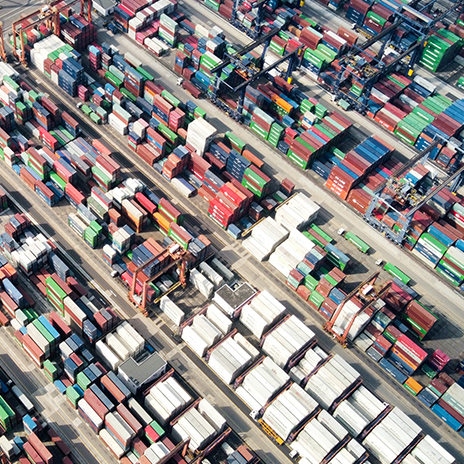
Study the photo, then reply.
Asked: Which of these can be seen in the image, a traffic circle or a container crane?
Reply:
container crane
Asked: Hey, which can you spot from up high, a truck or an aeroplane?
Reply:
truck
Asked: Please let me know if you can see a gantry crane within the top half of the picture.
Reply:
Yes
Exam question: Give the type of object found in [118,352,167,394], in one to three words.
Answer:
building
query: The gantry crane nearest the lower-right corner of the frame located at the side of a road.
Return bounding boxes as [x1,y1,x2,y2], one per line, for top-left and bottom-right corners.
[325,267,397,342]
